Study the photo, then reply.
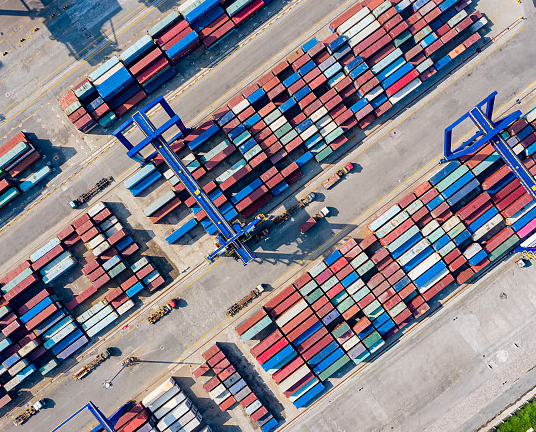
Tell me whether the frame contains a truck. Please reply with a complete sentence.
Yes, the picture does show a truck.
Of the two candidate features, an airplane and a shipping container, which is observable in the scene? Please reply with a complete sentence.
Looking from above, you can make out a shipping container.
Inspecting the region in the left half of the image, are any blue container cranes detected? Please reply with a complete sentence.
Yes, you'll find a blue container crane in the left half of the image.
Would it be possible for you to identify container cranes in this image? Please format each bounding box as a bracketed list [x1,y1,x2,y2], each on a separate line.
[53,401,127,432]
[113,94,261,266]
[444,94,536,208]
